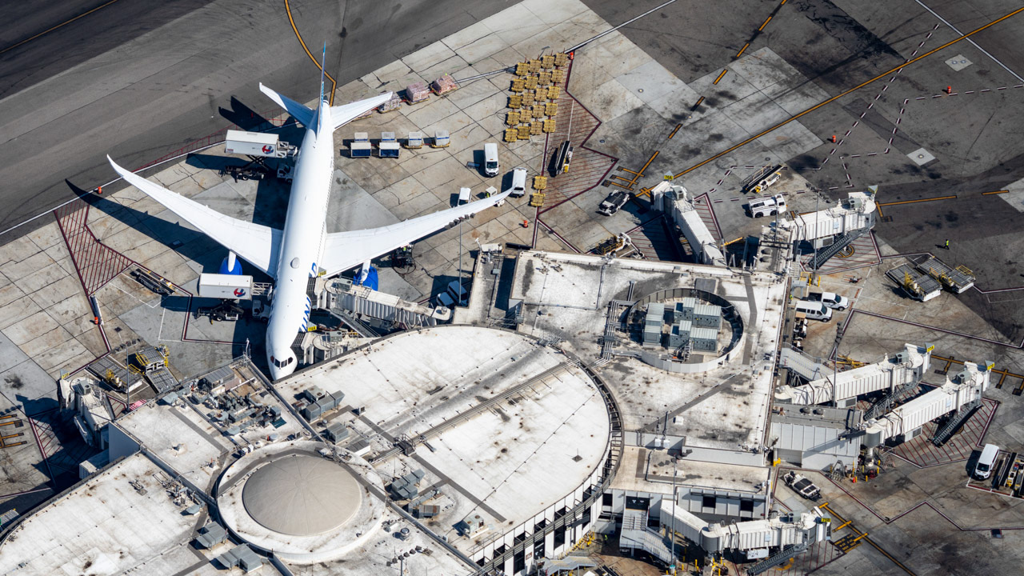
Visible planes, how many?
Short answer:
1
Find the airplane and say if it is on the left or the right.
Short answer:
left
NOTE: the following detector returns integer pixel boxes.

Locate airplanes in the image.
[107,41,512,380]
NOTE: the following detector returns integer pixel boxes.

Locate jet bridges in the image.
[861,359,998,474]
[291,319,427,366]
[764,183,885,277]
[304,266,452,331]
[55,368,115,446]
[657,502,836,576]
[645,171,741,267]
[771,340,939,424]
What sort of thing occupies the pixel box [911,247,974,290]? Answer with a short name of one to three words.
work vehicle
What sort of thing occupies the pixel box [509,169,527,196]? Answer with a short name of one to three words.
vehicle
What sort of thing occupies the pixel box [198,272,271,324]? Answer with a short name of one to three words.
truck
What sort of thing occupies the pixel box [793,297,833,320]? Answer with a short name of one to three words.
vehicle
